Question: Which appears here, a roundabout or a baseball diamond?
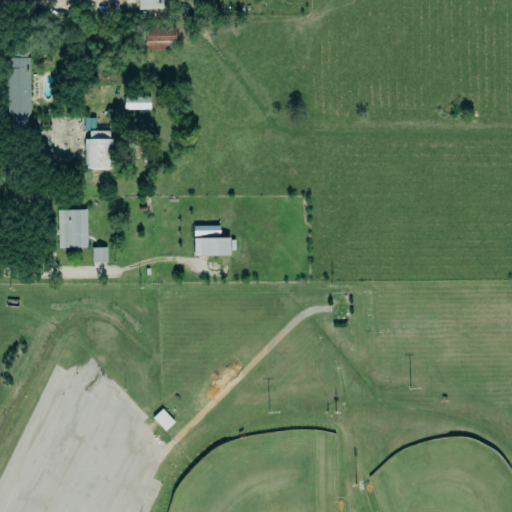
baseball diamond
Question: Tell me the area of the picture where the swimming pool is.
top left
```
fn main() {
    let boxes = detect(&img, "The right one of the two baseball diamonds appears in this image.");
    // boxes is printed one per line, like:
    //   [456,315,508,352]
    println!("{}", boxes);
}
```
[366,436,512,512]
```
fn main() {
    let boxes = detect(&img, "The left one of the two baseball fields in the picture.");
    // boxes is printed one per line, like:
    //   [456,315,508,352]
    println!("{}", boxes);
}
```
[168,430,344,512]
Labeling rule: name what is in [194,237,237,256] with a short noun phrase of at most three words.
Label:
house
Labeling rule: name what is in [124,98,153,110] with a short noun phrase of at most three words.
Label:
house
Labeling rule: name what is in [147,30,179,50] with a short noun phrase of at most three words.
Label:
barn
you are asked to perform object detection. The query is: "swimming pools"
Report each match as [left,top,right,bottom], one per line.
[32,72,54,102]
